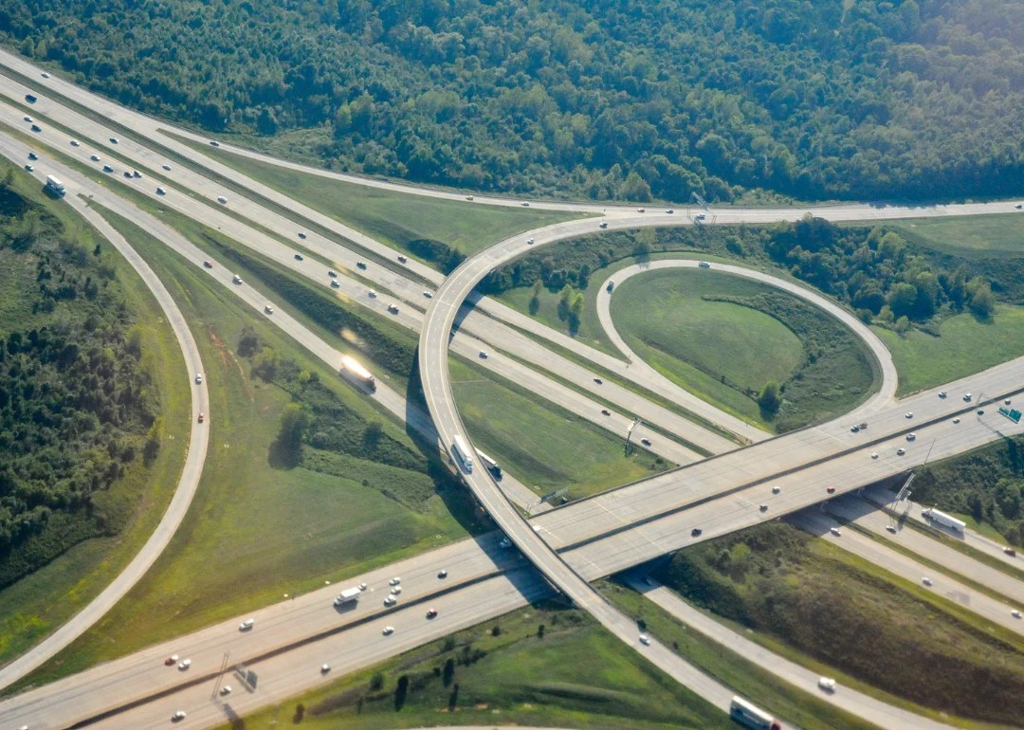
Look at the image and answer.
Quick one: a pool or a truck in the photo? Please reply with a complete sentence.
Visible in the photo is a truck.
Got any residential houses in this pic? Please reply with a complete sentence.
No, I find no residential house anywhere in the image.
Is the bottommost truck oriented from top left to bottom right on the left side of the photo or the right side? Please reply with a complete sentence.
The bottommost truck oriented from top left to bottom right is on the right side of the image.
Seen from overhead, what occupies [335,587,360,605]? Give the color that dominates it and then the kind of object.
white vehicle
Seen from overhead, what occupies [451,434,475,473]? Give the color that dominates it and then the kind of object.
white truck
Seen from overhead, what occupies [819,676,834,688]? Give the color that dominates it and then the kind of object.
white vehicle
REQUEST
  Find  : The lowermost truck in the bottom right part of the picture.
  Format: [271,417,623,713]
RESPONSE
[727,694,780,730]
